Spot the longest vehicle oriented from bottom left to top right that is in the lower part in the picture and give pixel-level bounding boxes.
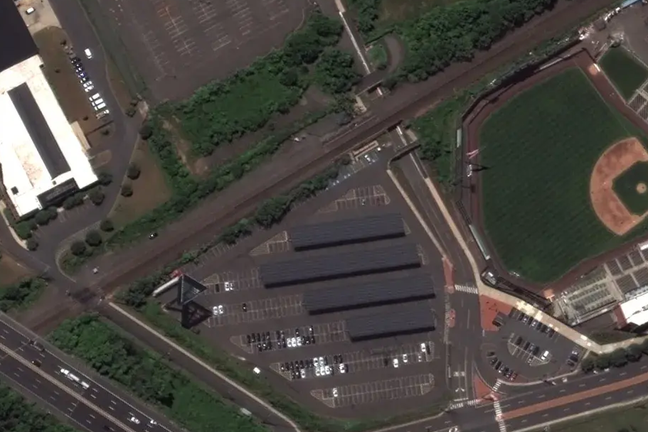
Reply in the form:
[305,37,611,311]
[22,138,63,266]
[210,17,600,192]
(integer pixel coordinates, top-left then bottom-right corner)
[153,277,179,294]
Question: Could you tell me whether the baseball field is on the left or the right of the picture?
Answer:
right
